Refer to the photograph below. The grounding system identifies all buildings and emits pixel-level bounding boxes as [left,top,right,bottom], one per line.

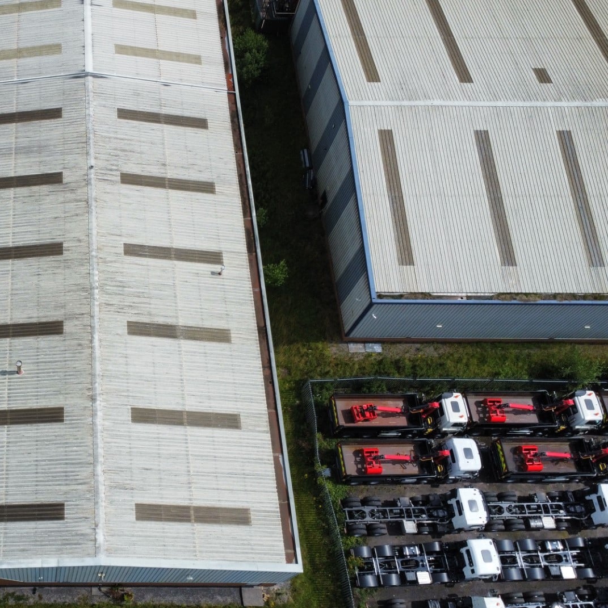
[292,0,608,340]
[0,0,302,588]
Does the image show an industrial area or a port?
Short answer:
industrial area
